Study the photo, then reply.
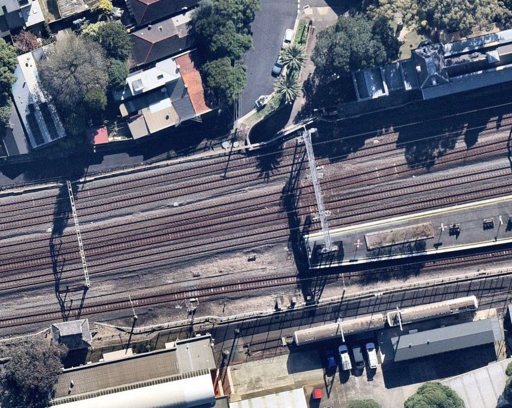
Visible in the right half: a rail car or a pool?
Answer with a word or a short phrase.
rail car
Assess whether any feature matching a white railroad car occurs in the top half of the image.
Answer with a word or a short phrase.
No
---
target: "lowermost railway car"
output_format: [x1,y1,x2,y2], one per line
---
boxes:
[293,312,386,345]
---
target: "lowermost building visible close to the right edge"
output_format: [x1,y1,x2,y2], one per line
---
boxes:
[391,317,503,363]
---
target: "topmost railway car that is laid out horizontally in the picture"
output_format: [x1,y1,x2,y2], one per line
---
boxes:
[387,294,479,327]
